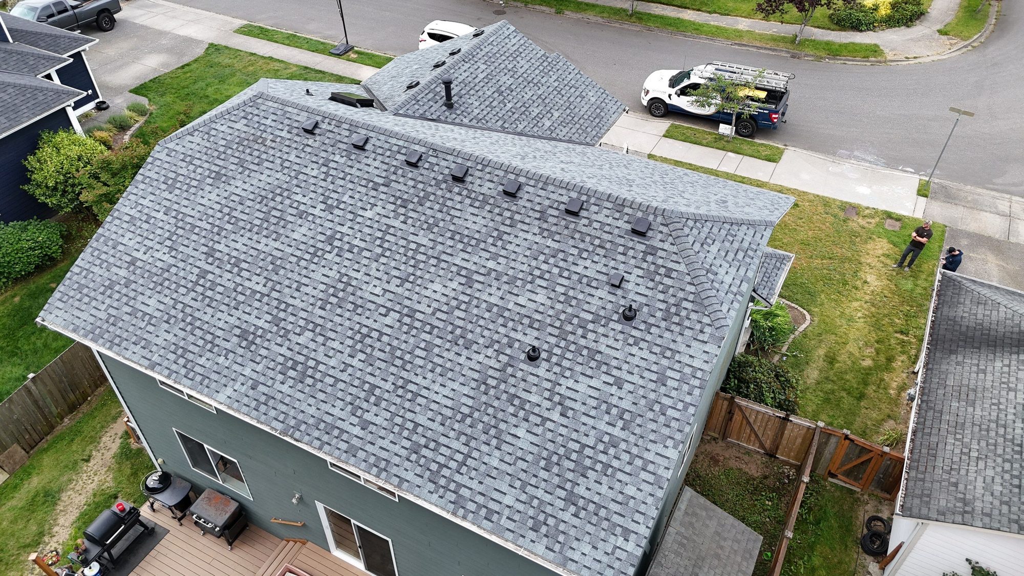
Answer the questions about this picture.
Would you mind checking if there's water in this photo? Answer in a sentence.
No, there is no water in the image.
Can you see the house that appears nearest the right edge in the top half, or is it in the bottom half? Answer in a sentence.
It is in the bottom half that the house that appears nearest the right edge appears.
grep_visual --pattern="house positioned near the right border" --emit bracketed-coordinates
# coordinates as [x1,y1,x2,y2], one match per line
[881,269,1024,576]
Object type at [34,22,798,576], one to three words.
house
